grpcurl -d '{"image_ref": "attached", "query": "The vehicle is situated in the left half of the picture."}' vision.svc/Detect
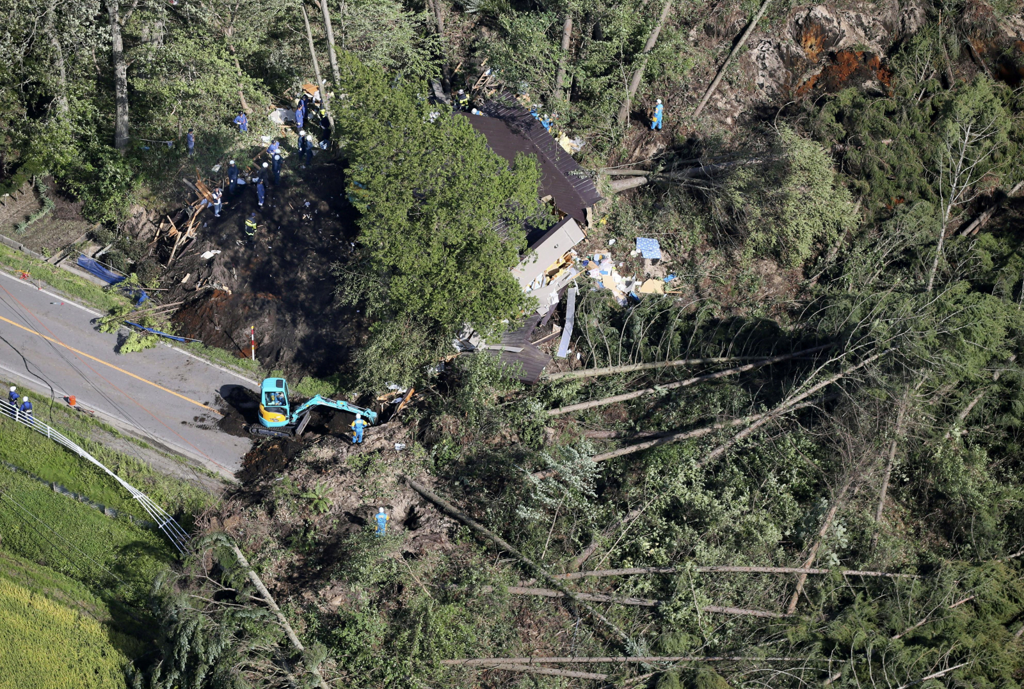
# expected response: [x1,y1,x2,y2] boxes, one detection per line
[245,373,377,443]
